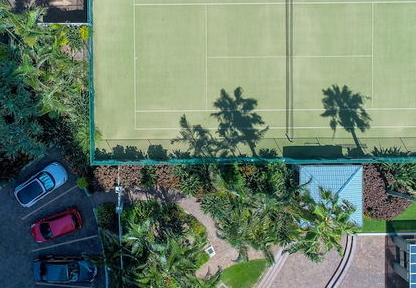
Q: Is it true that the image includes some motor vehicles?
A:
Yes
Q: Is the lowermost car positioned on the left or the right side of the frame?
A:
left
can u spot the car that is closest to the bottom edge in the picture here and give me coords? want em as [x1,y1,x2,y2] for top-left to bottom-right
[34,256,97,288]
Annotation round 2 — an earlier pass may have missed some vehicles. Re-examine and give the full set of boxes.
[11,159,70,209]
[30,208,84,245]
[34,256,97,288]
